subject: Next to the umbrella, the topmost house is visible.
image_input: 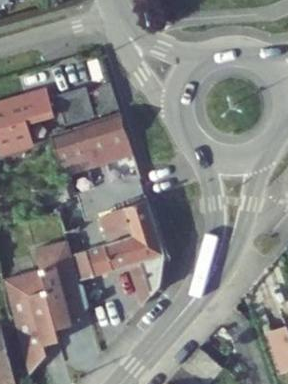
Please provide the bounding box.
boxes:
[54,112,133,176]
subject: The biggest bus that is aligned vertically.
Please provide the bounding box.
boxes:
[190,232,218,298]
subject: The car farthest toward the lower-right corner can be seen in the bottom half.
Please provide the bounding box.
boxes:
[174,342,196,363]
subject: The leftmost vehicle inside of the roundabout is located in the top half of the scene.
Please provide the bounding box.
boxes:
[180,83,196,106]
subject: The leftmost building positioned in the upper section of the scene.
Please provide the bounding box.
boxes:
[0,87,53,157]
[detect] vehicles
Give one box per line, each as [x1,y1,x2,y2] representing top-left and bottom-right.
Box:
[180,83,196,106]
[74,62,87,84]
[190,232,218,298]
[22,72,46,86]
[149,376,164,384]
[64,64,78,85]
[174,342,196,363]
[257,48,278,59]
[104,301,120,325]
[121,270,134,294]
[87,58,103,83]
[212,51,236,63]
[52,66,66,90]
[151,180,173,192]
[94,305,108,326]
[147,168,171,180]
[196,146,210,168]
